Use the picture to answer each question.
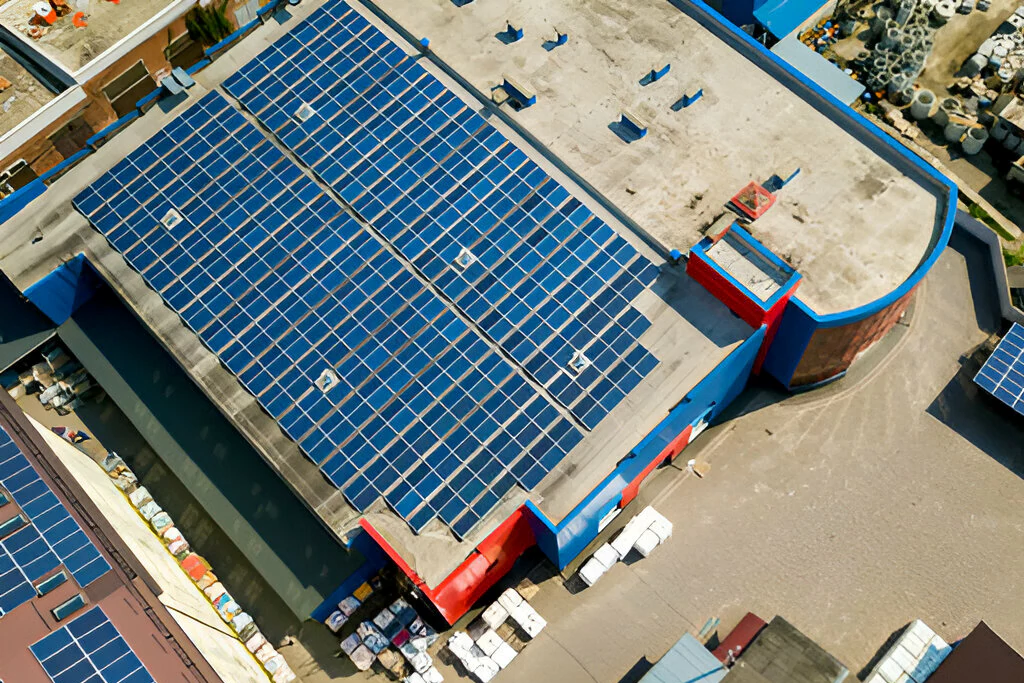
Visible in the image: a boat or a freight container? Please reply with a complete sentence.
The image shows a freight container.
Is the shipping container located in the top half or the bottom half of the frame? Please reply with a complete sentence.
The shipping container sits in the bottom half of the picture.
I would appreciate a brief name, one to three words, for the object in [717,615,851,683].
shed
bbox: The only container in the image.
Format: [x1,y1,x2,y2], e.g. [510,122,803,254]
[711,612,768,667]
